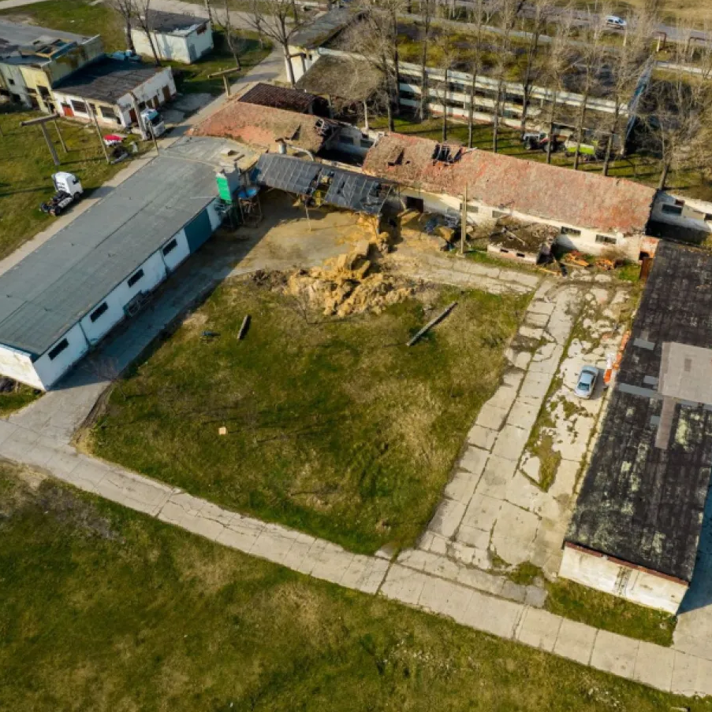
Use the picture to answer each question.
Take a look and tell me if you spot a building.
Yes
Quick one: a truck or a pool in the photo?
truck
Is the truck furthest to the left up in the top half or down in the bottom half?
top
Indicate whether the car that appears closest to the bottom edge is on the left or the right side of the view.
right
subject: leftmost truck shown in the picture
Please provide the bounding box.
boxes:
[40,176,86,214]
